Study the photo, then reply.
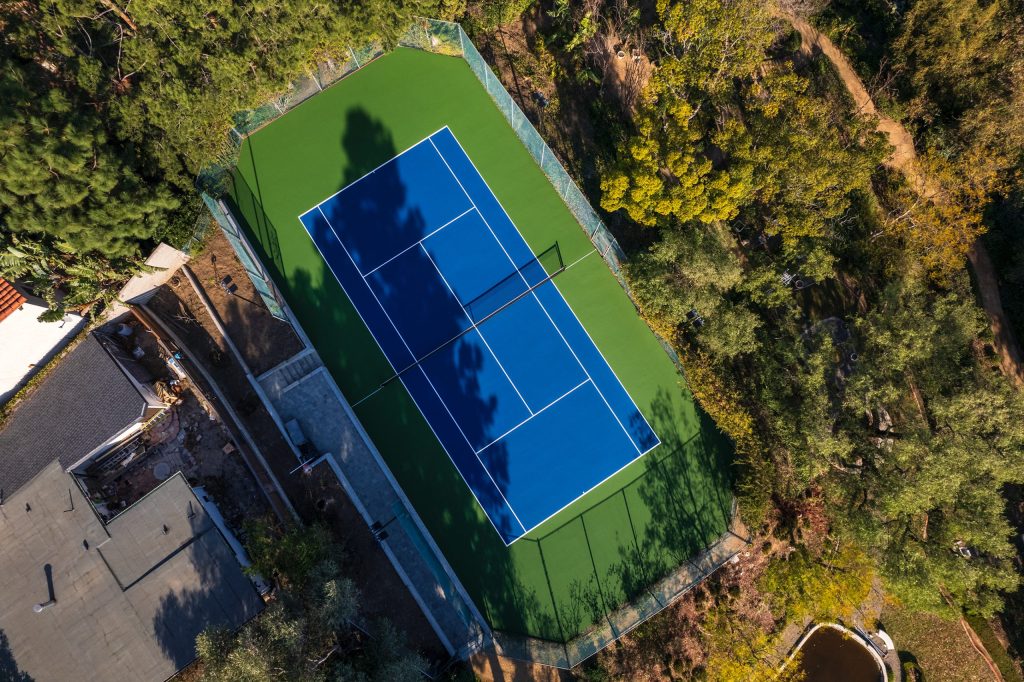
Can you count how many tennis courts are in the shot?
1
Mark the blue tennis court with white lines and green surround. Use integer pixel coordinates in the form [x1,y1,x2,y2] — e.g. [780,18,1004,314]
[220,45,739,640]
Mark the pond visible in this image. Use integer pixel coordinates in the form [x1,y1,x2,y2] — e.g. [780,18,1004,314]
[776,622,888,682]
